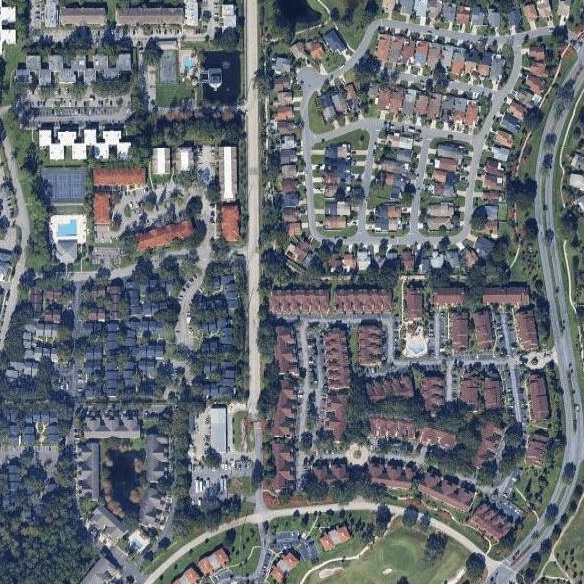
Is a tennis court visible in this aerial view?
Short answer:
Yes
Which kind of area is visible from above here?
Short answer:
residential area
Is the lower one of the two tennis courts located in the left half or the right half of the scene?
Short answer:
left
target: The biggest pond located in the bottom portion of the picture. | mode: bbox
[104,450,146,517]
